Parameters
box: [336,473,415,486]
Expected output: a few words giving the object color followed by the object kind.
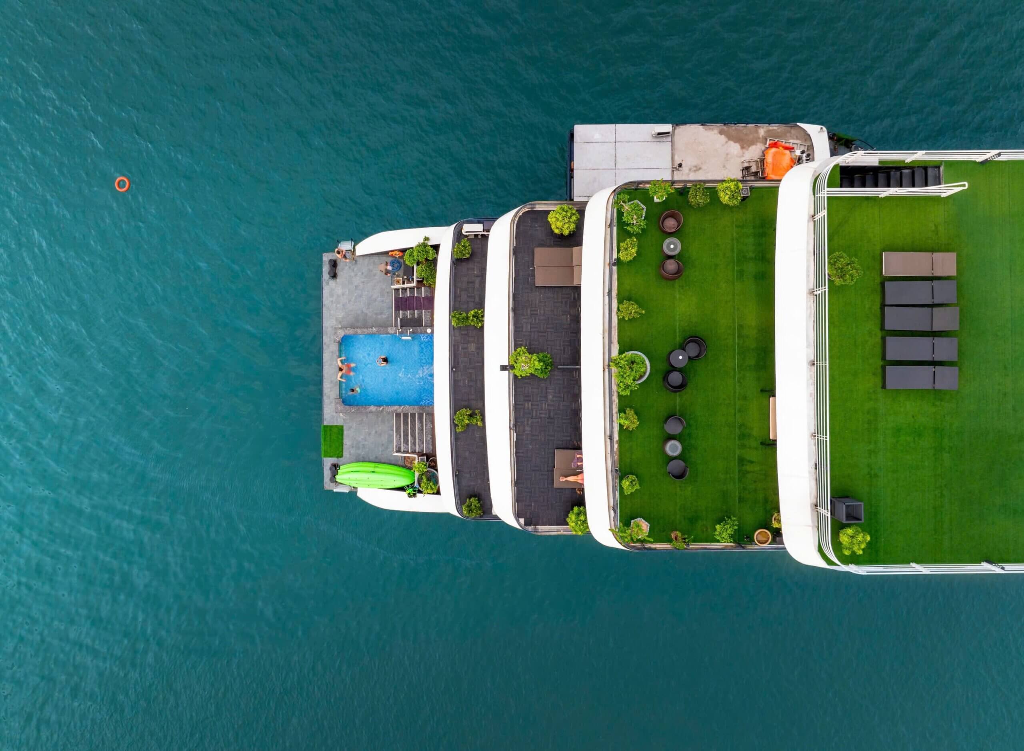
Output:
green boat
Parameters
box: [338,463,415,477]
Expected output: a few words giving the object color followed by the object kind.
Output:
green boat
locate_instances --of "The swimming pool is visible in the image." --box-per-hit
[334,319,434,413]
